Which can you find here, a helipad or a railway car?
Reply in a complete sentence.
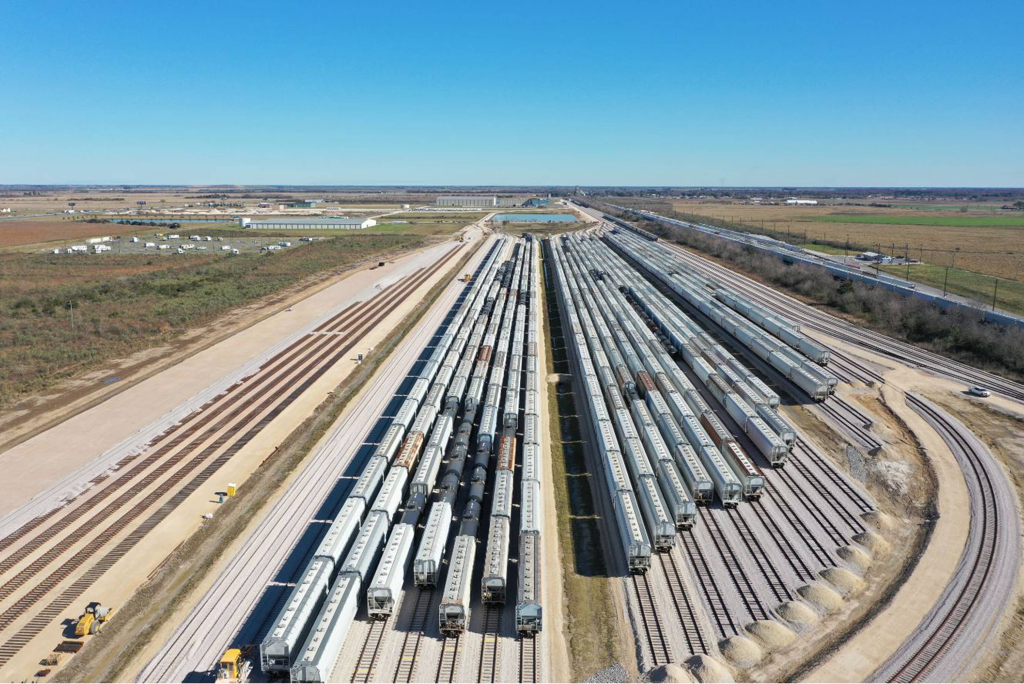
Visible in the photo is a railway car.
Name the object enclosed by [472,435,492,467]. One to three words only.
rail car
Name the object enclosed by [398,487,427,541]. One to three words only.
rail car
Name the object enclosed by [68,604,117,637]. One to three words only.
work vehicle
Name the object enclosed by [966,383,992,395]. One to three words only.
vehicle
